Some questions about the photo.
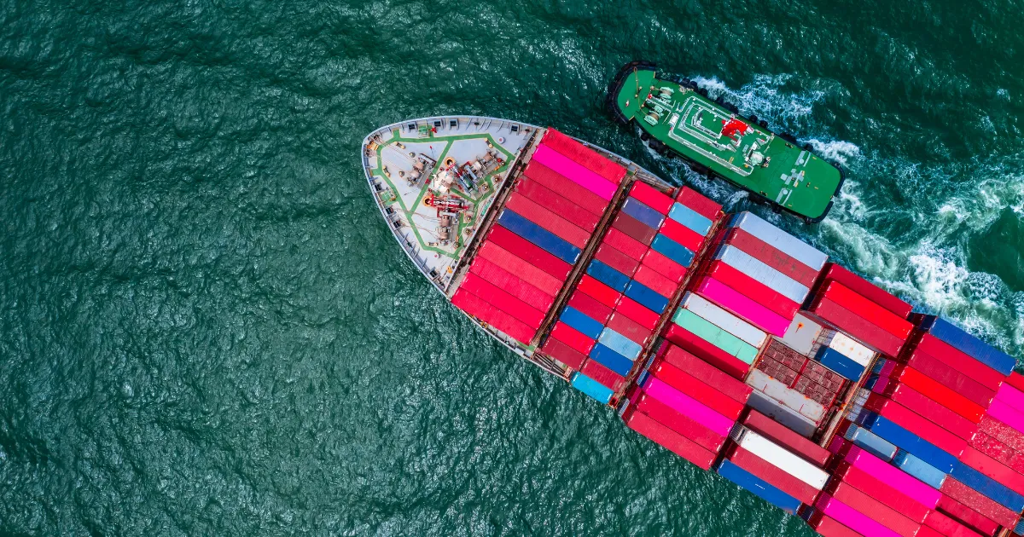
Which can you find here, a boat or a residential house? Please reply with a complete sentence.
I can see a boat in this picture.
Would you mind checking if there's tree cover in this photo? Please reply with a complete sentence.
No, there's no tree cover in this view.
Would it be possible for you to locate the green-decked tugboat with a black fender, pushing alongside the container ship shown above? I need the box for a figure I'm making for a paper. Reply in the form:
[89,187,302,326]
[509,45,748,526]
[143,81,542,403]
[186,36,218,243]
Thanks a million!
[605,58,846,227]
